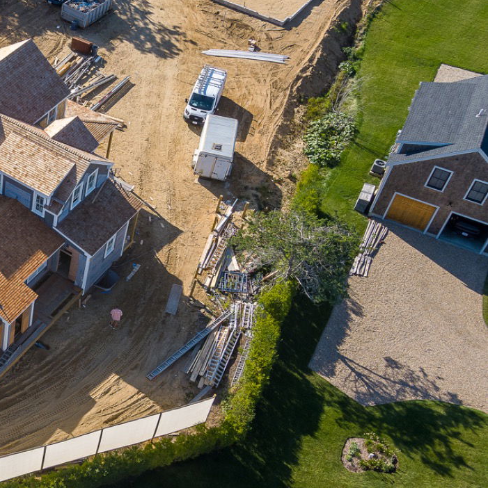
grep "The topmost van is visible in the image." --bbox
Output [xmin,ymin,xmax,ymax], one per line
[188,55,237,123]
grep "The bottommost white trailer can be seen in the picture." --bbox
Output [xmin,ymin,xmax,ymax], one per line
[185,115,235,183]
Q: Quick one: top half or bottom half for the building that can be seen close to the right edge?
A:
top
